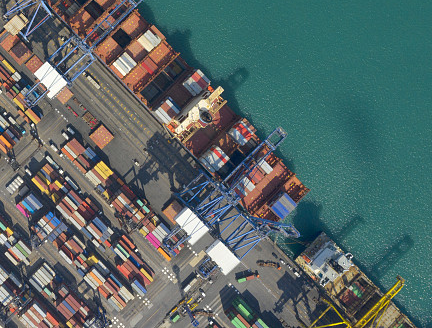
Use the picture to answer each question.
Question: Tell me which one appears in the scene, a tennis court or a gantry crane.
gantry crane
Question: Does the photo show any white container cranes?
Yes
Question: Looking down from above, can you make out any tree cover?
No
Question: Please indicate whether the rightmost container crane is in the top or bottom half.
bottom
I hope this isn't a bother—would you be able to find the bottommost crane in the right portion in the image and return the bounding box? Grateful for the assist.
[293,276,410,328]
